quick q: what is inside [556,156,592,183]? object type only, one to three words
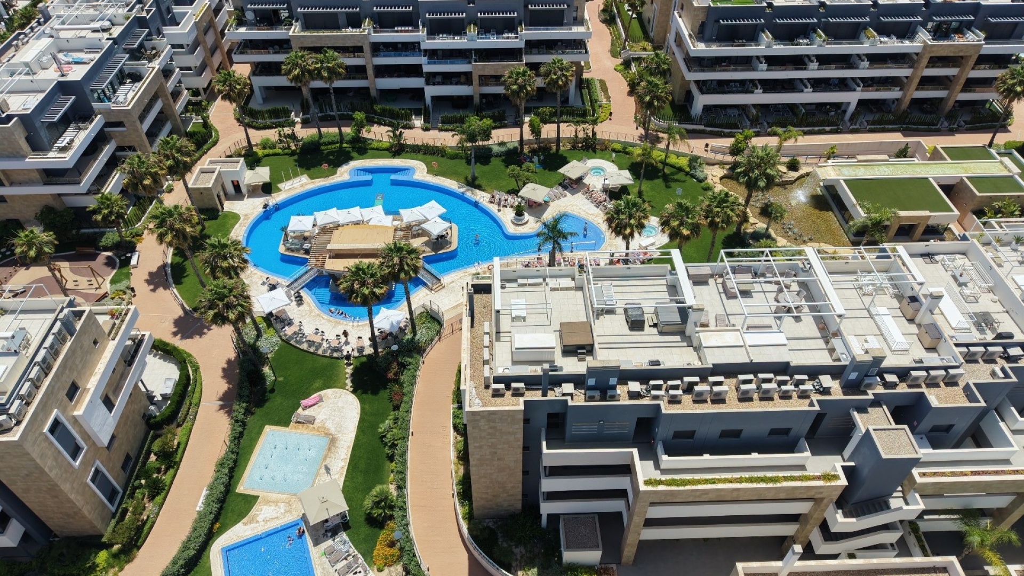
umbrella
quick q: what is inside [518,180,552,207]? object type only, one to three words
umbrella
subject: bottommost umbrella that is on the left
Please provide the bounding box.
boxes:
[296,479,352,532]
